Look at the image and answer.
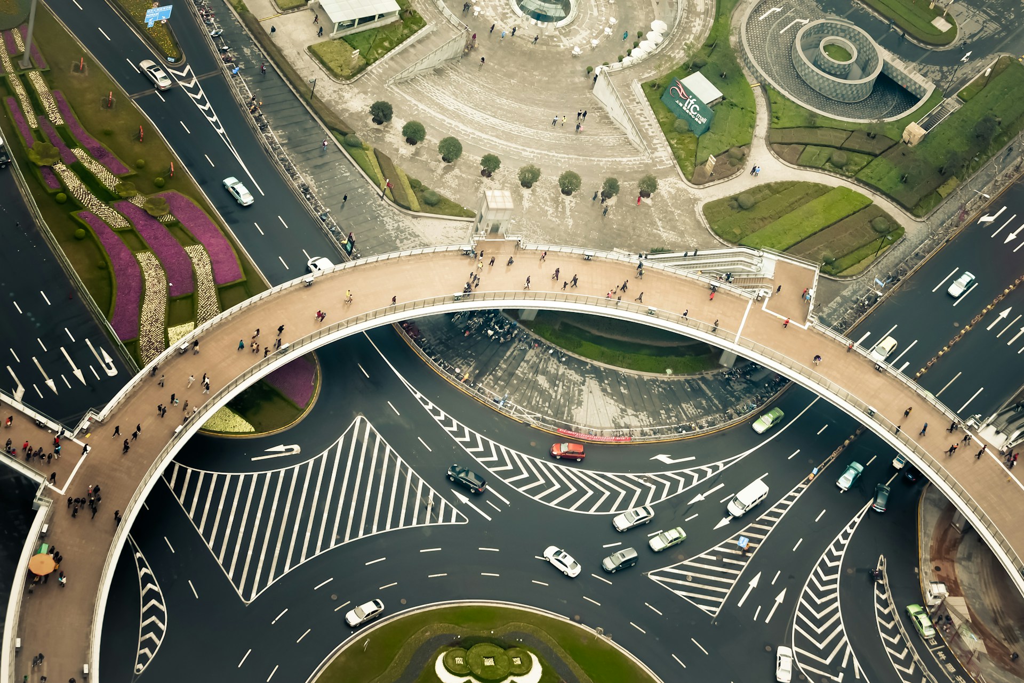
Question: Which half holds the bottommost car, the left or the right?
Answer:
right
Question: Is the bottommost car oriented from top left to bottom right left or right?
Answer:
right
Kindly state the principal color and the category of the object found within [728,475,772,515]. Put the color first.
white vehicle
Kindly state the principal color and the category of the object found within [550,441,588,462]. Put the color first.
red car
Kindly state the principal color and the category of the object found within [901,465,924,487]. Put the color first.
black car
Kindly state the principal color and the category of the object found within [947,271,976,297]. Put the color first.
white car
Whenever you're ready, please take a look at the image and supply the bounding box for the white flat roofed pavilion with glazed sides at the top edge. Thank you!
[311,0,401,37]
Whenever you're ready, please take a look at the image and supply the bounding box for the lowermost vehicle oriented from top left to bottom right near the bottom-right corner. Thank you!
[904,604,937,641]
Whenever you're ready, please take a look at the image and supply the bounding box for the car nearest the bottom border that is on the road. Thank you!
[775,646,795,683]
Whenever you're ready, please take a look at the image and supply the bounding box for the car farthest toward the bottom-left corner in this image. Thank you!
[343,598,388,627]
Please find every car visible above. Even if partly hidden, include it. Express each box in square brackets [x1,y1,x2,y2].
[870,480,893,516]
[751,407,786,434]
[445,464,489,494]
[648,526,688,552]
[904,604,937,641]
[834,461,865,491]
[775,646,795,683]
[138,60,172,91]
[304,254,334,271]
[343,598,388,627]
[550,441,588,462]
[871,335,898,361]
[947,271,976,297]
[901,465,924,487]
[928,389,941,401]
[221,177,256,206]
[541,545,584,578]
[0,139,8,152]
[613,505,655,531]
[890,452,909,475]
[599,544,642,574]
